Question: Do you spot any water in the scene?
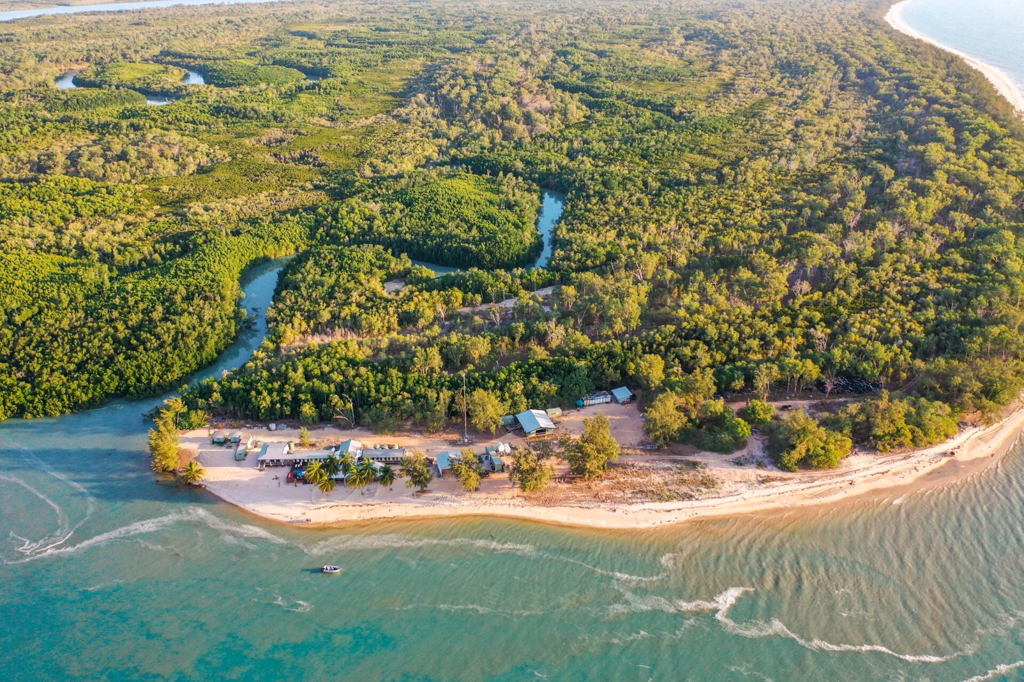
Yes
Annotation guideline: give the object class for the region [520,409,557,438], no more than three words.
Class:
house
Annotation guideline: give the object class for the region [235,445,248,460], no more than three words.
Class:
vehicle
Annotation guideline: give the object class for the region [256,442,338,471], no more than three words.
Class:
building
